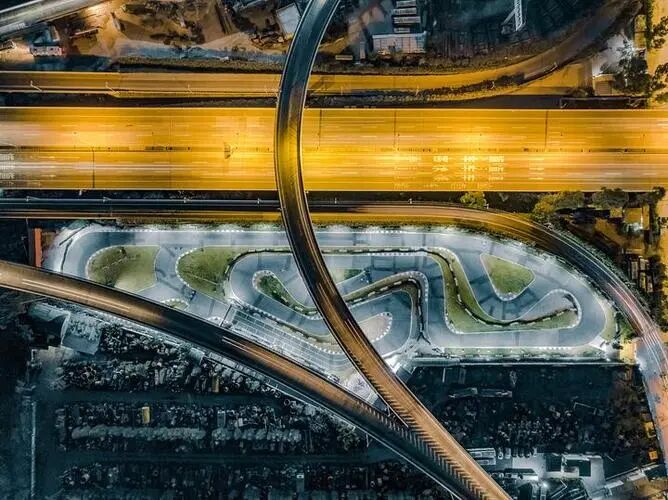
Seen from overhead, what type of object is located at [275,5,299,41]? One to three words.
building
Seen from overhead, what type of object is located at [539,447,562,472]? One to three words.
building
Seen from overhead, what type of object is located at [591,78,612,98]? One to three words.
shed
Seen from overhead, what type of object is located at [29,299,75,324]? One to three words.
shed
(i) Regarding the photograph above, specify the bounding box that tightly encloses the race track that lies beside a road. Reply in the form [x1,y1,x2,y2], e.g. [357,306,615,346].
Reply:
[42,223,622,408]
